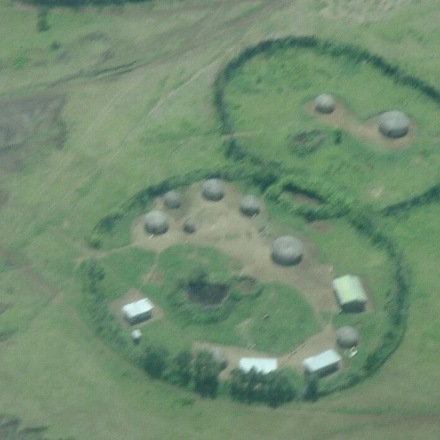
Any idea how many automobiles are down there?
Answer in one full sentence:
The photo contains no automobiles.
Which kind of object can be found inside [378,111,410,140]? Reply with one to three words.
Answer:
shed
